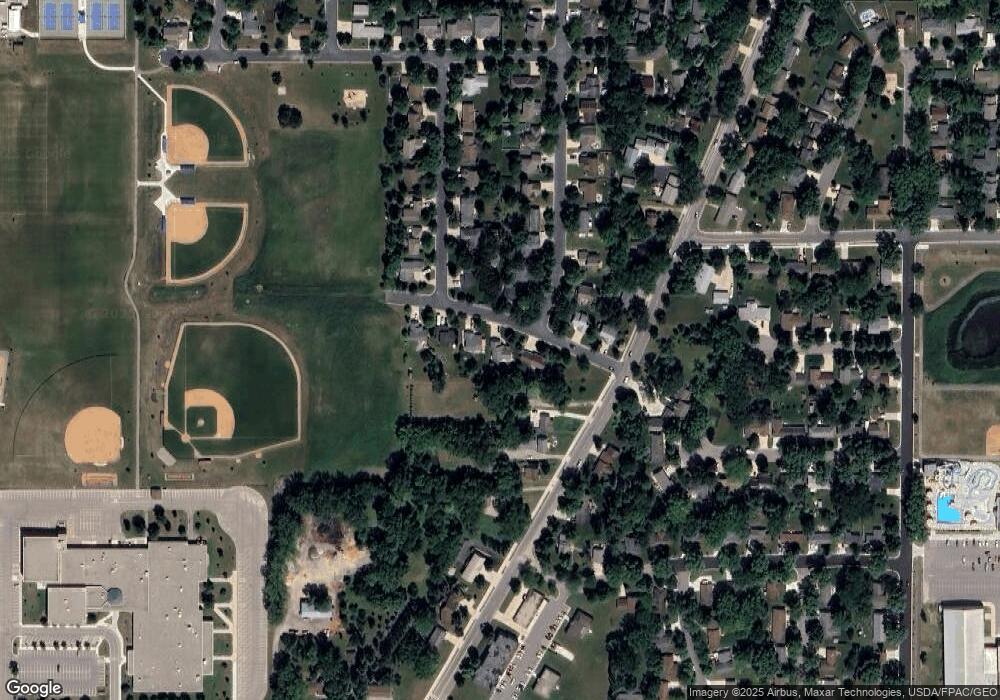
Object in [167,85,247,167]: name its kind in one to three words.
baseball field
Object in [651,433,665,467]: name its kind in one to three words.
house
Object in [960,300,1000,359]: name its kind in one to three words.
pond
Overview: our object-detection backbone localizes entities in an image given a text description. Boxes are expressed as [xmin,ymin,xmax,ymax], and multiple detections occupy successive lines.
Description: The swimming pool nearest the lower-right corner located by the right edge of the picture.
[938,495,961,522]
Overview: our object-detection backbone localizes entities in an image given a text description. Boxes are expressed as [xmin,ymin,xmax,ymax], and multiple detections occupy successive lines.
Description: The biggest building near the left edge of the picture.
[21,534,213,693]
